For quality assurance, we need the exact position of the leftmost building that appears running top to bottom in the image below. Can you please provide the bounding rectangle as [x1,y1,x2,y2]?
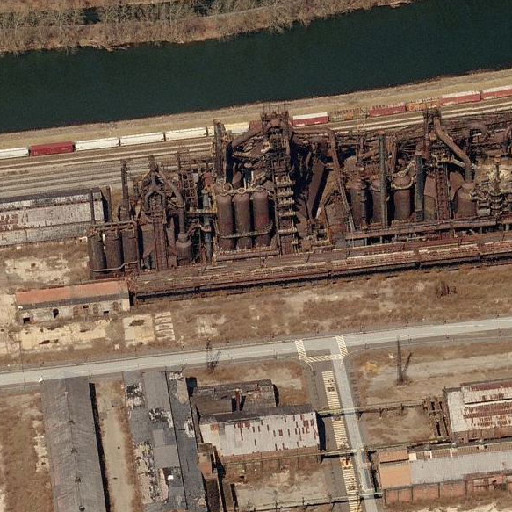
[43,373,109,512]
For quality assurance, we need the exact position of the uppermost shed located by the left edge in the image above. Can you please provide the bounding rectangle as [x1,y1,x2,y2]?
[0,186,104,249]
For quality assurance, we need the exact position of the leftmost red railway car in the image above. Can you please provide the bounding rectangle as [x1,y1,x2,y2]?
[28,138,74,154]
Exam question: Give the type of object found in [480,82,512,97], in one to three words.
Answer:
rail car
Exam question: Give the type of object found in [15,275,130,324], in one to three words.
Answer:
building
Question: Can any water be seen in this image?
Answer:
Yes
